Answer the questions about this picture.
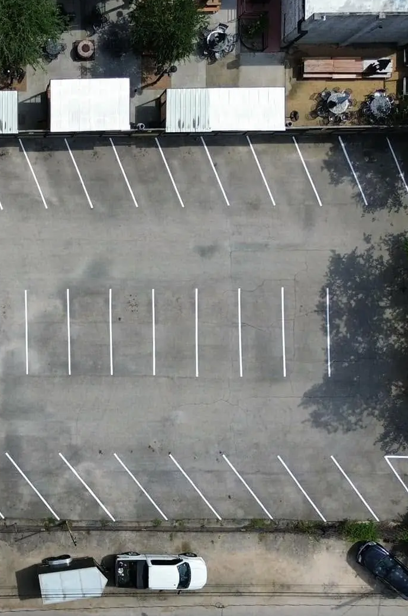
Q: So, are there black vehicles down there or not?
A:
Yes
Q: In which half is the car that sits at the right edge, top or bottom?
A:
bottom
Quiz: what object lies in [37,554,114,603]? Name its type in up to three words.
trailer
